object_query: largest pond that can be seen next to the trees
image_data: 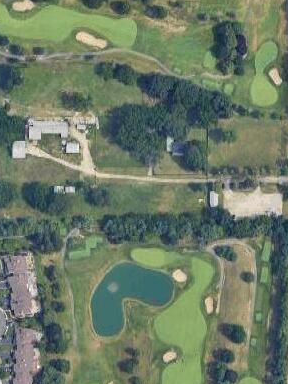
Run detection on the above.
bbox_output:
[90,261,174,336]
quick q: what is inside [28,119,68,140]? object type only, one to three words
barn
